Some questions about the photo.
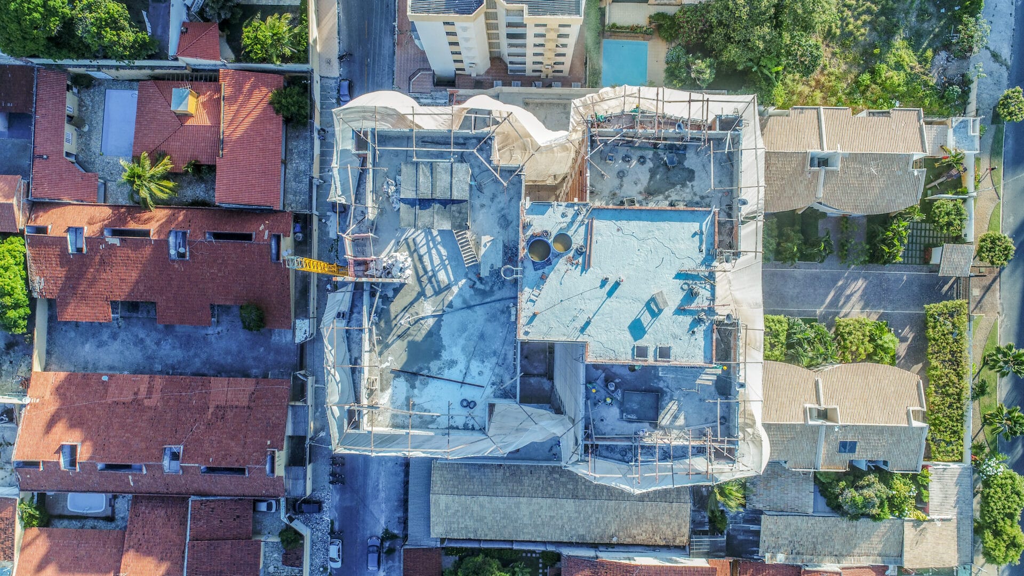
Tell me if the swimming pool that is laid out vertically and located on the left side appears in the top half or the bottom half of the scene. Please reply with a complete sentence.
The swimming pool that is laid out vertically and located on the left side is in the top half of the image.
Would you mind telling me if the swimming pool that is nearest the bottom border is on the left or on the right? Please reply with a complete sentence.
You can find the swimming pool that is nearest the bottom border on the left side of the picture.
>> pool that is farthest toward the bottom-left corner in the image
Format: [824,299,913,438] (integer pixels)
[65,493,109,514]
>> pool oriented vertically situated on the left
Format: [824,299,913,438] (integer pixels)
[100,88,138,158]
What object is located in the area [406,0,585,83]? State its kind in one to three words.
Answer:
building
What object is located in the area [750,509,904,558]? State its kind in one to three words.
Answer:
house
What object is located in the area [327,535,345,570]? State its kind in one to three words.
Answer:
car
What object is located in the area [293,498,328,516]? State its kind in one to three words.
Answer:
car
